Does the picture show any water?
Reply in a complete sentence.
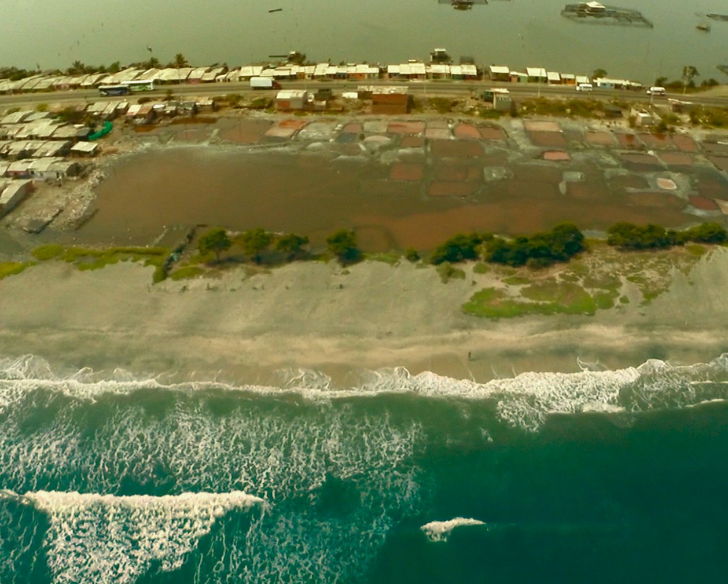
Yes, there is water in the image.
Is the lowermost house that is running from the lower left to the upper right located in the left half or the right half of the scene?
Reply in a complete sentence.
The lowermost house that is running from the lower left to the upper right is on the left side of the image.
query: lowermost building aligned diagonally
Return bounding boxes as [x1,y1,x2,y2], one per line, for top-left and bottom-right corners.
[0,177,34,215]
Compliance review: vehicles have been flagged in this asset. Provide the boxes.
[248,76,280,88]
[649,87,666,95]
[120,78,156,89]
[577,84,593,91]
[96,82,131,95]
